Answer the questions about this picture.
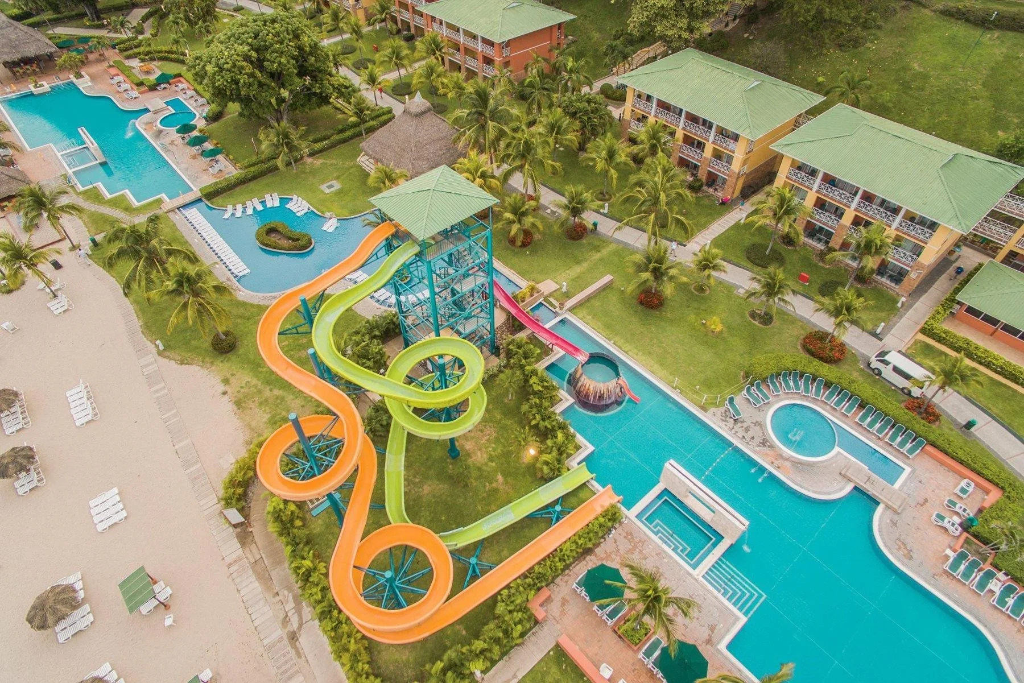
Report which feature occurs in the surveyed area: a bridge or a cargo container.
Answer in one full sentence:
The image shows a bridge.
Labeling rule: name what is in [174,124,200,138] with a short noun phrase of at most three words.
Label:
umbrella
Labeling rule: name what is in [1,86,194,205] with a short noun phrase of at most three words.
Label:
swimming pool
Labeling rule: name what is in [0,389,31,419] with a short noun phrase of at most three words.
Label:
umbrella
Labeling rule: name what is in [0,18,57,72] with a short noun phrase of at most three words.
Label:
building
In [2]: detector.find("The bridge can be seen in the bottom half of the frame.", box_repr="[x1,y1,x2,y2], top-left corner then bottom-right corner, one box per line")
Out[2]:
[842,465,908,511]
